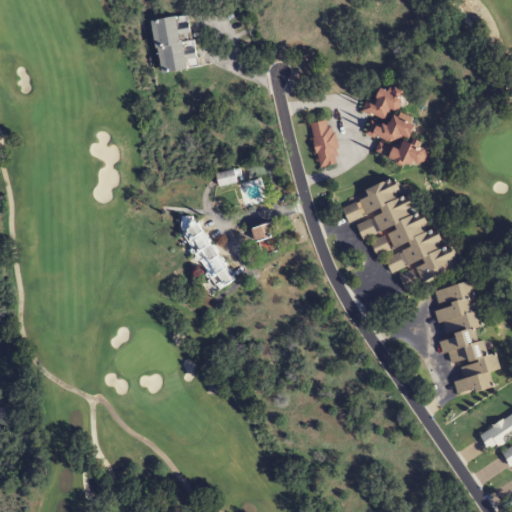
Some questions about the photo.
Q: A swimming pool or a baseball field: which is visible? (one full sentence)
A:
Looking from above, you can make out a swimming pool.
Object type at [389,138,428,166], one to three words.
house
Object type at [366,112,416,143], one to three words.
house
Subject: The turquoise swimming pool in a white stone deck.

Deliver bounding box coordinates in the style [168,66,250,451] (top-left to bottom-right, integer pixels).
[241,178,266,206]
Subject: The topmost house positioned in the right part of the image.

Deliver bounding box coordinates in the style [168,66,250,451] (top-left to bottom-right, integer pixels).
[362,86,408,119]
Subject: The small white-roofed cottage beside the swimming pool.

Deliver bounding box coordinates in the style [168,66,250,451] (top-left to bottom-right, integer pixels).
[216,168,243,186]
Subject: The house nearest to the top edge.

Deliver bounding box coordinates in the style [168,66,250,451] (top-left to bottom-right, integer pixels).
[151,16,198,74]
